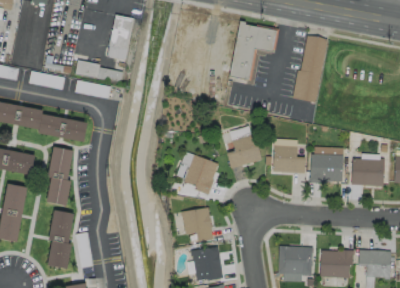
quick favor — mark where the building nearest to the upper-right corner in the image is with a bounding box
[294,35,328,102]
